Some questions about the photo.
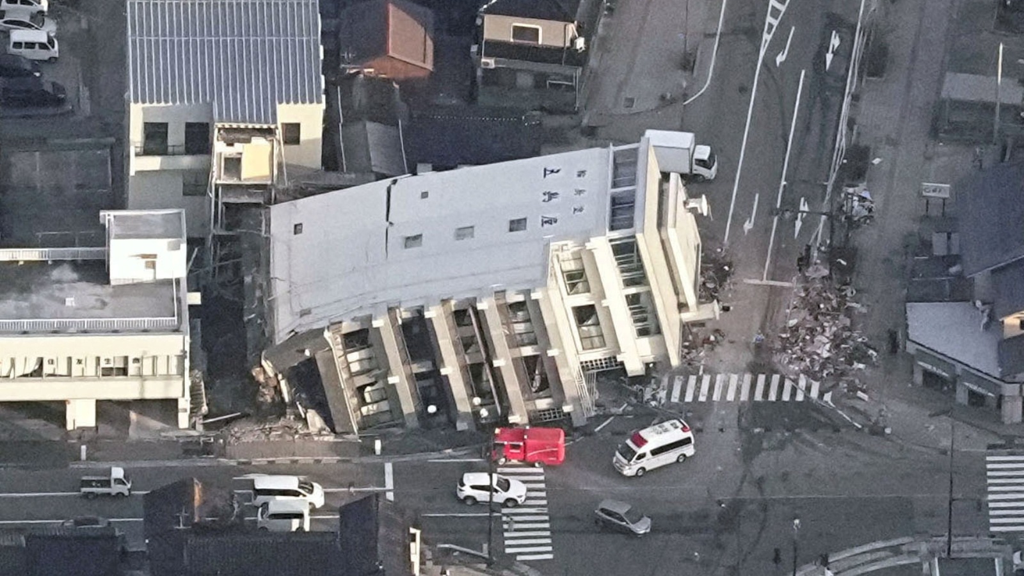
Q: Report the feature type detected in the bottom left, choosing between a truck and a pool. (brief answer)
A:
truck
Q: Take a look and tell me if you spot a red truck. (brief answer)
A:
Yes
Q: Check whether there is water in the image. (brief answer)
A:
No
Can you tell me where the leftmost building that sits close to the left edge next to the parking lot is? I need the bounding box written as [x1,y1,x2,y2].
[0,200,200,428]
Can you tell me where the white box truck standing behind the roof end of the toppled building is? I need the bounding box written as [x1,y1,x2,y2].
[641,126,715,181]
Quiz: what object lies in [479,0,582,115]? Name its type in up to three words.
house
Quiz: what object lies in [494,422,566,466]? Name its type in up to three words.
truck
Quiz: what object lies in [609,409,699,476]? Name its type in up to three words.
van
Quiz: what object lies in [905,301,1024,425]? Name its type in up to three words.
building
